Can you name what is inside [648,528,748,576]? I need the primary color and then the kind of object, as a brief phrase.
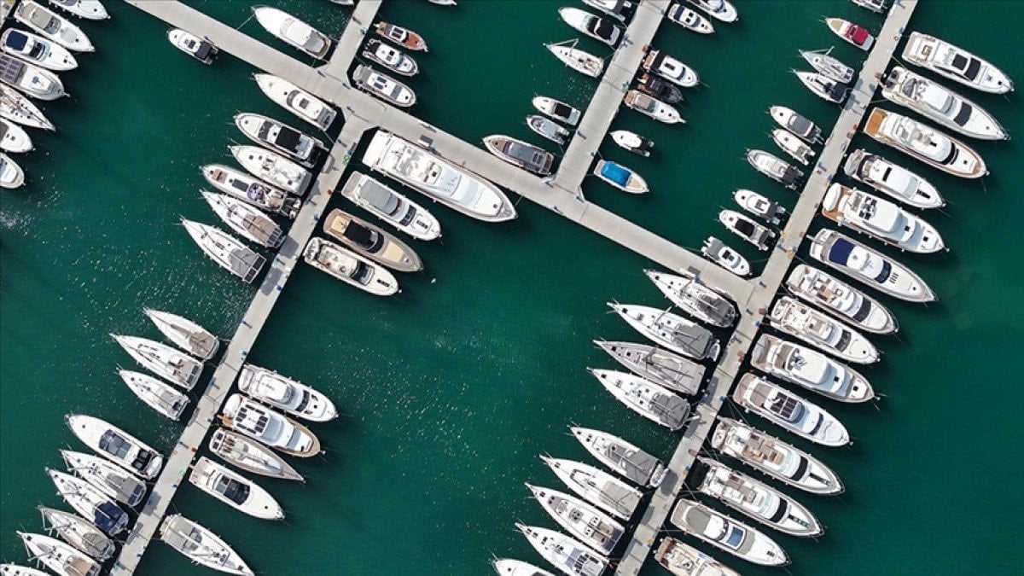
white boat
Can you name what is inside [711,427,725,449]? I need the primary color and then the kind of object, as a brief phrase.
white boat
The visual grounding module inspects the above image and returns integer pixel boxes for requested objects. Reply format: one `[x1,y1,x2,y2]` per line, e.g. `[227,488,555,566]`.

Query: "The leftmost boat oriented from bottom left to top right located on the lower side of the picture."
[146,456,163,478]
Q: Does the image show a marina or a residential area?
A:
marina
